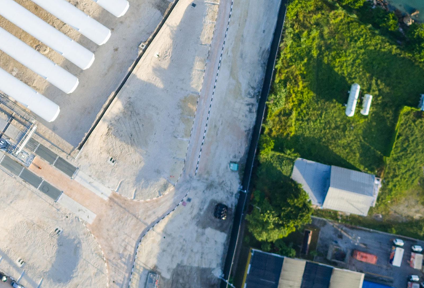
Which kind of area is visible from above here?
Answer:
industrial area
